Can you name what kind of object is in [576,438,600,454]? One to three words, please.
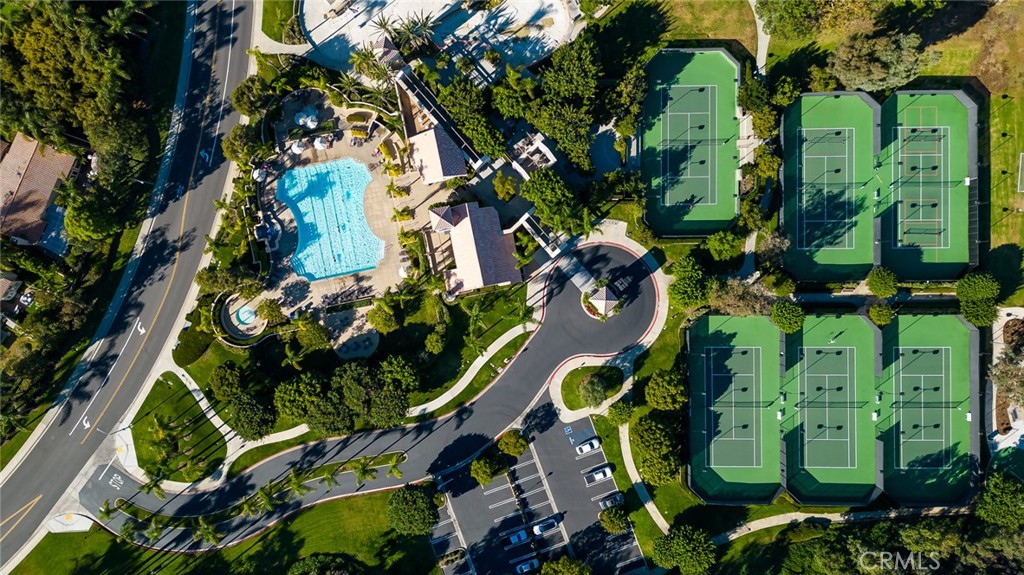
car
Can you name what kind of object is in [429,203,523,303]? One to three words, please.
building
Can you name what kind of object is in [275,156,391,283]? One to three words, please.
swimming pool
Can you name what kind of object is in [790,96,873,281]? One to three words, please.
tennis court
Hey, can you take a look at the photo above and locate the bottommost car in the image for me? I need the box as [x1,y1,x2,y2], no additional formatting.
[515,557,540,573]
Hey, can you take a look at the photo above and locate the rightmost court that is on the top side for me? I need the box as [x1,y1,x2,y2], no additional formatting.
[873,95,968,280]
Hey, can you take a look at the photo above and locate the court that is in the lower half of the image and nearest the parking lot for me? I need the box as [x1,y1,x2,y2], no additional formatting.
[689,317,780,502]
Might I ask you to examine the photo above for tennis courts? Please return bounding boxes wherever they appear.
[646,50,740,235]
[790,96,873,281]
[689,317,780,502]
[781,317,874,503]
[875,317,970,503]
[873,95,968,280]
